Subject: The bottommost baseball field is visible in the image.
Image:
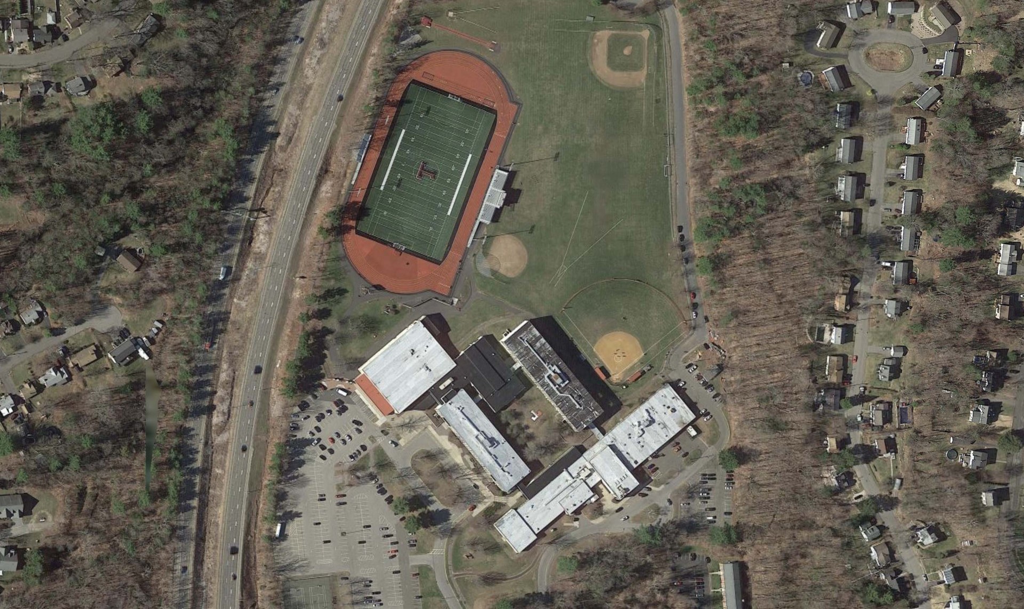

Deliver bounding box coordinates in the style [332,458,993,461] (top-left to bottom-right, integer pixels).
[558,278,685,382]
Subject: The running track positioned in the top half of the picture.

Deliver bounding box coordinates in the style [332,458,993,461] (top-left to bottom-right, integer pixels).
[336,47,524,301]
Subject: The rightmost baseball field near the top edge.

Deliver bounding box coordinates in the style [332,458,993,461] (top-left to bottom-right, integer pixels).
[555,20,655,126]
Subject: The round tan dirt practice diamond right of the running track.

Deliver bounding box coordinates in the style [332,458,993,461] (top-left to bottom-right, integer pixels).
[476,236,527,278]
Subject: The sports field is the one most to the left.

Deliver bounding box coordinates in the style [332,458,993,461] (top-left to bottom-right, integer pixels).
[354,80,497,264]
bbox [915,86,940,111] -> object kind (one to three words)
house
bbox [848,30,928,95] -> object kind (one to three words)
roundabout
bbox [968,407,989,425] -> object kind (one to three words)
house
